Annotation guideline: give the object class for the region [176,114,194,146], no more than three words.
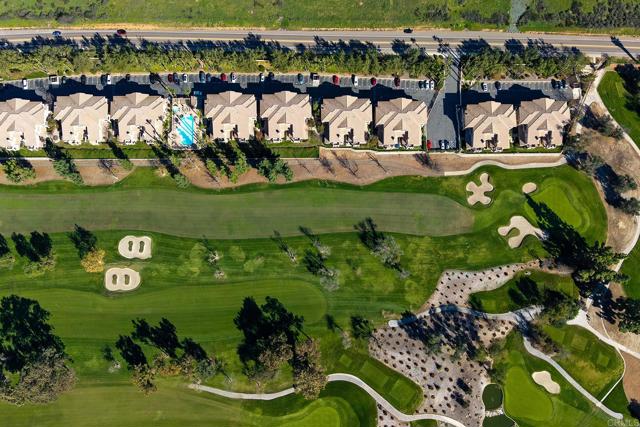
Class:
swimming pool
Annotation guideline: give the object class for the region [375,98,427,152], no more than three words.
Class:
house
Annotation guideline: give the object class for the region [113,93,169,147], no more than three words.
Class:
house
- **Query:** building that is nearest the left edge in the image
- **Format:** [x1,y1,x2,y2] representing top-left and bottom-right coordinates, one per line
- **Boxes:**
[0,98,54,153]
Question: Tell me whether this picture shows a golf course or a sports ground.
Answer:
golf course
